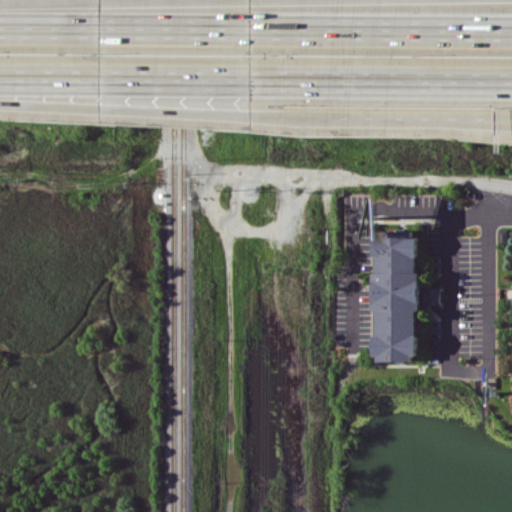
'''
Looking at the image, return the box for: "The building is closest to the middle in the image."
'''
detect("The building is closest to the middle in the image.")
[368,232,420,362]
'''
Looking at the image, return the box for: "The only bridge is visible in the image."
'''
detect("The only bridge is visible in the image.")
[98,0,248,134]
